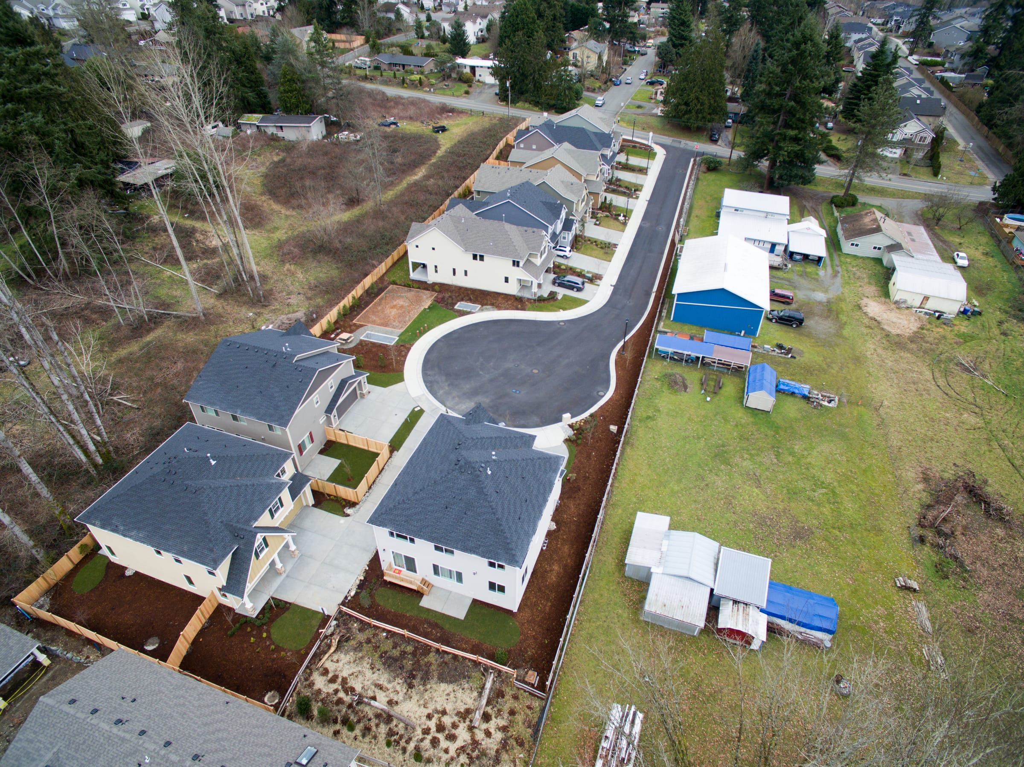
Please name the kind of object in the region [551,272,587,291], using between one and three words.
car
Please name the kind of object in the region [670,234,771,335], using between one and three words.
building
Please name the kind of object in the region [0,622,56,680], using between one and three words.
house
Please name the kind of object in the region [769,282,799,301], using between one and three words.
car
